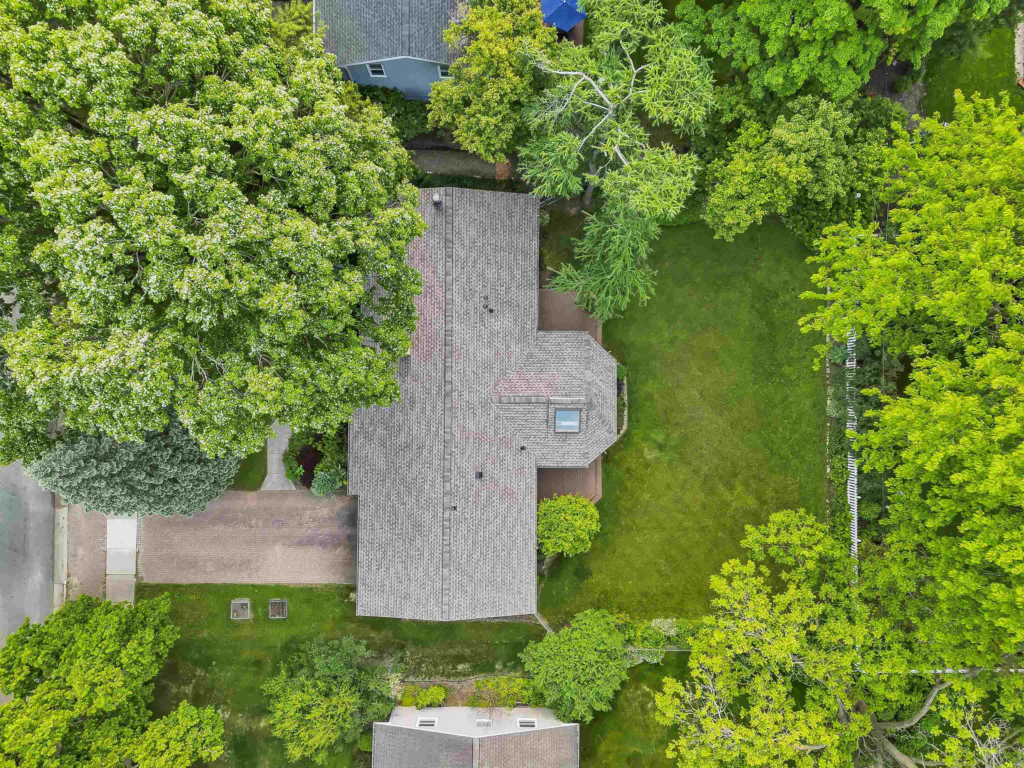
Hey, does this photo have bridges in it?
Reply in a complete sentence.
No, there is no bridge in the image.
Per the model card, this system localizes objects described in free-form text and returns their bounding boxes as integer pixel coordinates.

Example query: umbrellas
[543,0,587,37]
